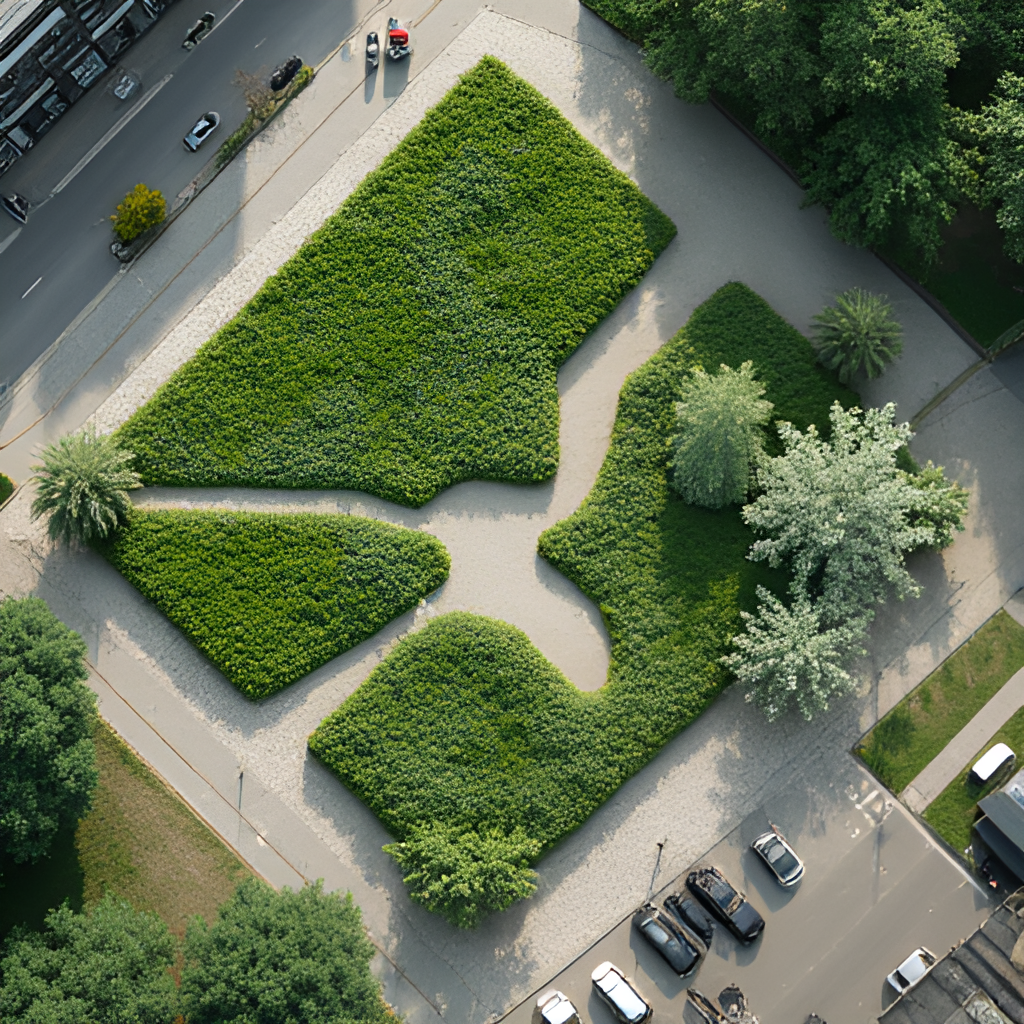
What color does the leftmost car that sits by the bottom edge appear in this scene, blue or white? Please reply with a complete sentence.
The color of the leftmost car that sits by the bottom edge is white.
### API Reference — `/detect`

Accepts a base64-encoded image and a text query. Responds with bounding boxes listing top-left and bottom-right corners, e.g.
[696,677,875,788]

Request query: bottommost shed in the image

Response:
[864,883,1024,1024]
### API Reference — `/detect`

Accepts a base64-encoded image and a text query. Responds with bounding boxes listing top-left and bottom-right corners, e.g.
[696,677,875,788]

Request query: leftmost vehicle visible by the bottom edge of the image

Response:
[543,986,593,1024]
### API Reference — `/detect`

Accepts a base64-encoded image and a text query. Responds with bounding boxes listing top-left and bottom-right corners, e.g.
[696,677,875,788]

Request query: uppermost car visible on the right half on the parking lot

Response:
[750,826,806,891]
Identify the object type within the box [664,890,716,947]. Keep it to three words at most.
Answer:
car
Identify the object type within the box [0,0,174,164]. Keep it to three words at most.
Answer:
building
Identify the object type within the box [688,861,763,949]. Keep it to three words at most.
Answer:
car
